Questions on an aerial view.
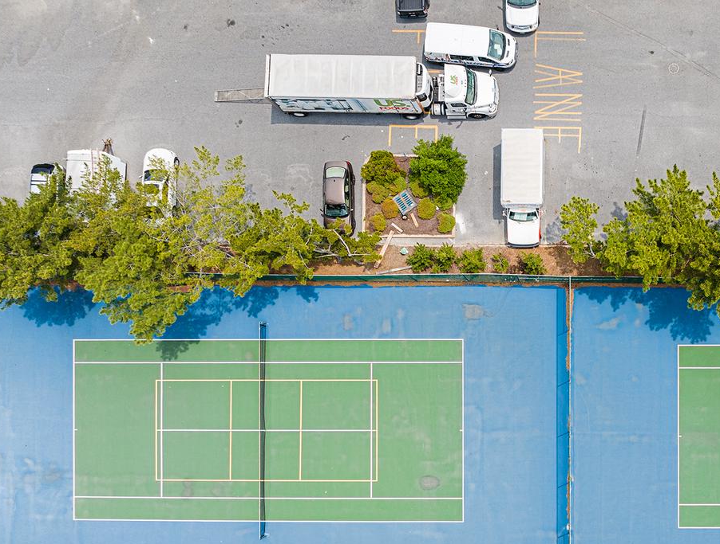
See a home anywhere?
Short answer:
No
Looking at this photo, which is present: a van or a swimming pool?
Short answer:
van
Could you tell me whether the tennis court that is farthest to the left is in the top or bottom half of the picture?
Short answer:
bottom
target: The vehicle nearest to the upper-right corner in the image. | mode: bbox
[501,0,543,34]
